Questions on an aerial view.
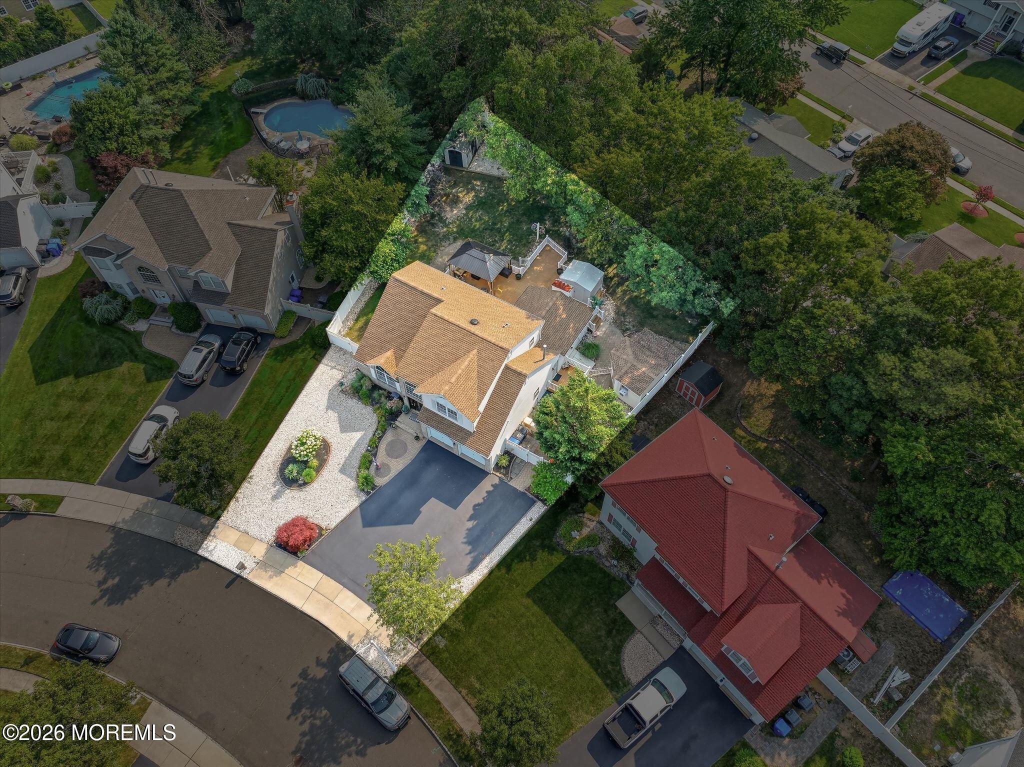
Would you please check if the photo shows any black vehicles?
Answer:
Yes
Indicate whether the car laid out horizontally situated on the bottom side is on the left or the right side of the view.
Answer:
left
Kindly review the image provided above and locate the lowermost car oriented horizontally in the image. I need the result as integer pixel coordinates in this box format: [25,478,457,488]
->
[49,627,131,668]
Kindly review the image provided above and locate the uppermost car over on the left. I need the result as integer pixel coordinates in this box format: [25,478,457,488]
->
[0,263,36,311]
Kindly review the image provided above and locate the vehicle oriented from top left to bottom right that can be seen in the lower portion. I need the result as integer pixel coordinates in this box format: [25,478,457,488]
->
[336,653,415,736]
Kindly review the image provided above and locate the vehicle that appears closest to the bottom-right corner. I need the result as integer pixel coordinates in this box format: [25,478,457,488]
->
[599,663,690,755]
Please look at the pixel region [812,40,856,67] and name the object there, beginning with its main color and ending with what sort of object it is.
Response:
black car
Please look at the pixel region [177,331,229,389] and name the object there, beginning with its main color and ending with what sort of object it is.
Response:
gray car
